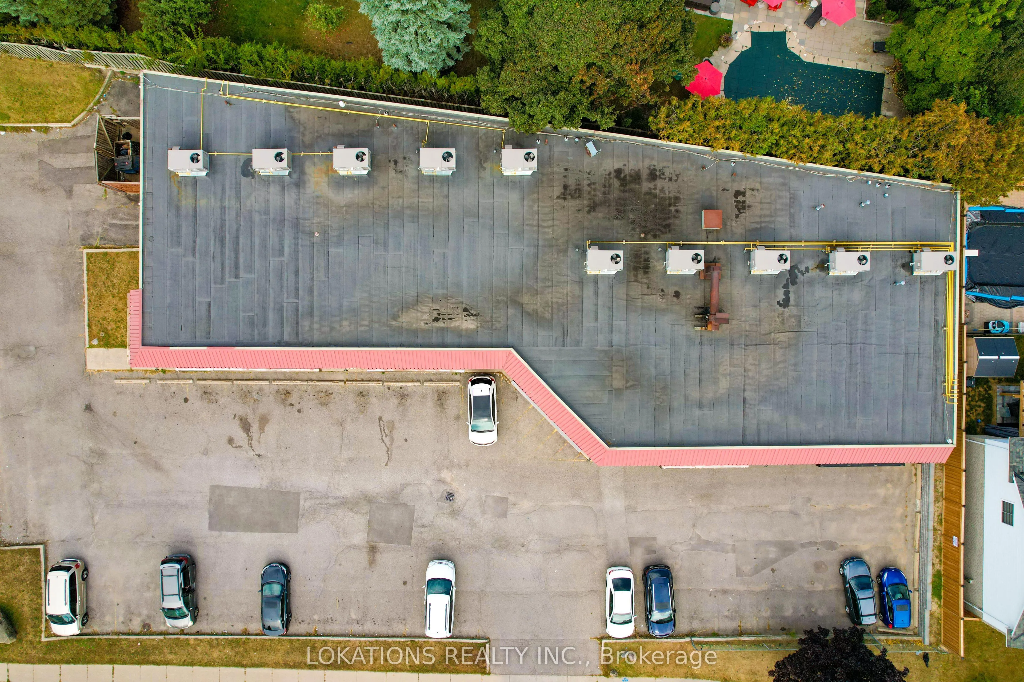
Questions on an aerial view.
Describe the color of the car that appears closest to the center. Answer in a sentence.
The car that appears closest to the center is white.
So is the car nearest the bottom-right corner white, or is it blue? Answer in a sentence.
The car nearest the bottom-right corner is blue.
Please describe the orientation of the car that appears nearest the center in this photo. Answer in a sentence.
I'd say the car that appears nearest the center is aligned vertically in the picture.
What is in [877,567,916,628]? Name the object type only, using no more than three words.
car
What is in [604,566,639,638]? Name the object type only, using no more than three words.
car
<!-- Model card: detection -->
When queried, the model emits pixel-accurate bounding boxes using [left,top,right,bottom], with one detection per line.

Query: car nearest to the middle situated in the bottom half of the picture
[464,374,500,447]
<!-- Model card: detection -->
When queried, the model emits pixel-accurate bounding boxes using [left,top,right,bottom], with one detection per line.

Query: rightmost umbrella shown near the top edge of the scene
[822,0,856,25]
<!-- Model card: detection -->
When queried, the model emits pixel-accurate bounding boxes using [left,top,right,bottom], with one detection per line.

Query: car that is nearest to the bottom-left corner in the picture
[41,558,88,637]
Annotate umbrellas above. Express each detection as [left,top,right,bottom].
[755,0,789,11]
[685,63,723,97]
[822,0,856,25]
